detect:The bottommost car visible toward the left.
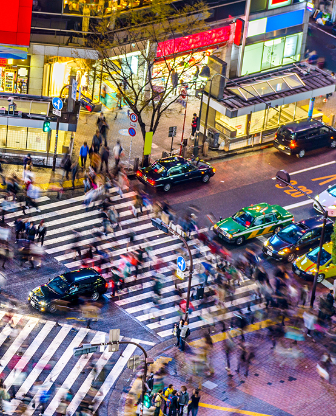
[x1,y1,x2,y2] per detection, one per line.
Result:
[23,263,114,315]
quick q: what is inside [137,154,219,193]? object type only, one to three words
car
